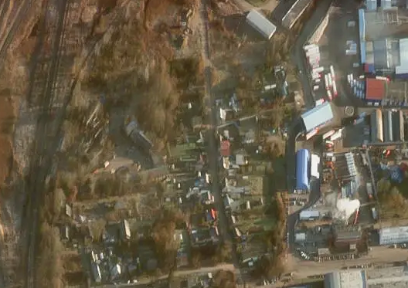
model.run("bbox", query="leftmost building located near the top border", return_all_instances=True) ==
[246,8,276,41]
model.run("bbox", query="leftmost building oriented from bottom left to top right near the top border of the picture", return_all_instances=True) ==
[281,0,313,30]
